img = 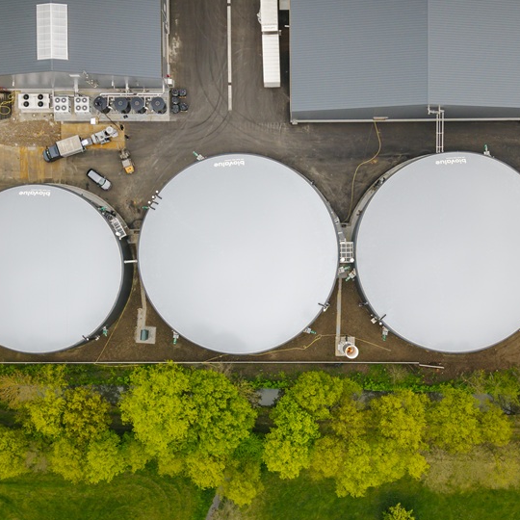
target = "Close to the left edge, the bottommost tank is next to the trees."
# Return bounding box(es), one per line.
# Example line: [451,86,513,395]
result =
[0,183,139,355]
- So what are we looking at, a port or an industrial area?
industrial area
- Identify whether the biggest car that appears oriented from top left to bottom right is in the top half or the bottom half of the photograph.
top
